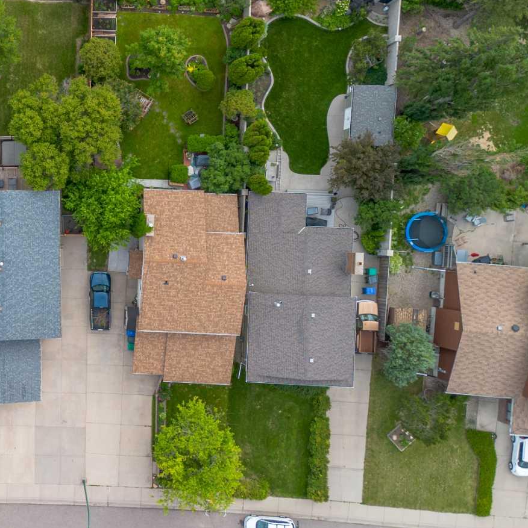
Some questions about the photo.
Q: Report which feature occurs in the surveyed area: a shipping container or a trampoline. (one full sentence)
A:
The image shows a trampoline.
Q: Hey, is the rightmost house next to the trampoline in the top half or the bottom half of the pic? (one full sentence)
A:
The rightmost house next to the trampoline is in the bottom half of the image.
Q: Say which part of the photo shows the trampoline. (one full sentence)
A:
You can find the trampoline in the right area of the picture.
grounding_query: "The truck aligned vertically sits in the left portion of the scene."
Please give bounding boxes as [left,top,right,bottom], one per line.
[90,273,114,331]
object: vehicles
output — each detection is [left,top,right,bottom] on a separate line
[242,513,297,528]
[510,436,528,477]
[90,273,114,331]
[357,300,381,356]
